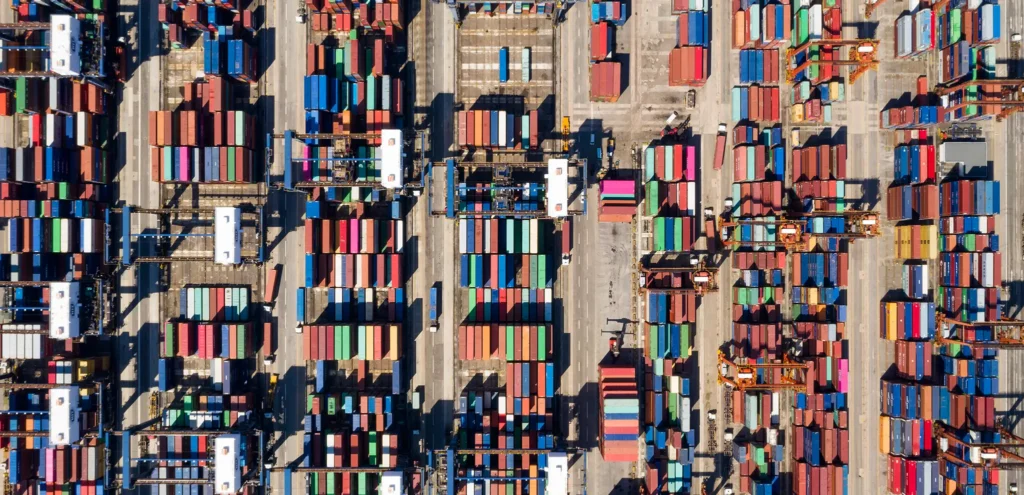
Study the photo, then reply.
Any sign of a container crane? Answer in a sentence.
Yes, looking at the shot, I can spot a container crane.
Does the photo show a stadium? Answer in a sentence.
No, there is no stadium in the image.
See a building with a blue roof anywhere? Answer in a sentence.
No, the photo shows no building with a blue roof.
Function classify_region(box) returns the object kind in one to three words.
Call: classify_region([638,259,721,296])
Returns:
container crane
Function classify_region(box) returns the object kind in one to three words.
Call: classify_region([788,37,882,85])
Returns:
container crane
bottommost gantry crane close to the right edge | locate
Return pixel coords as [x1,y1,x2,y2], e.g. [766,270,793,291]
[936,422,1024,468]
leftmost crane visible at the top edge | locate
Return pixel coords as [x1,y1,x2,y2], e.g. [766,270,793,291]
[0,13,107,85]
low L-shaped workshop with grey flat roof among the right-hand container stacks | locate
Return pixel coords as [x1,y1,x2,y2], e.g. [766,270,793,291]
[939,142,987,177]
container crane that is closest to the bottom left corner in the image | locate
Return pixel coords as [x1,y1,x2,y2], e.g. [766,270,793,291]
[0,367,107,446]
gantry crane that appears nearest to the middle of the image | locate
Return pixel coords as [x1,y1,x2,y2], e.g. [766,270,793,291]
[426,157,585,228]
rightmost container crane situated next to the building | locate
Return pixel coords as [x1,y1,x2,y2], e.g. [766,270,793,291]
[934,76,1024,122]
